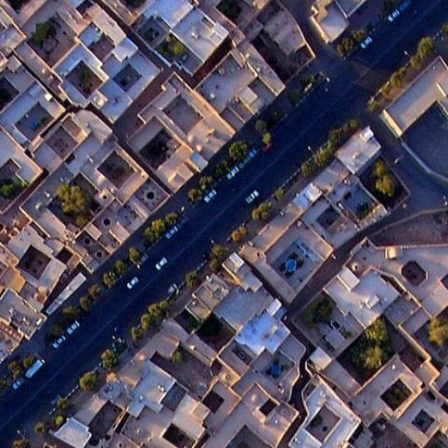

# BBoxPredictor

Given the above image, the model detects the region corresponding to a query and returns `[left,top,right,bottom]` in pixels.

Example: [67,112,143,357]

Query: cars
[247,146,258,158]
[359,36,372,49]
[237,157,251,169]
[167,282,180,295]
[260,141,273,154]
[246,190,259,203]
[126,276,140,289]
[388,9,400,21]
[204,190,217,202]
[12,377,25,390]
[155,257,168,270]
[67,322,80,335]
[227,167,239,180]
[166,226,179,239]
[53,336,66,349]
[398,0,411,11]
